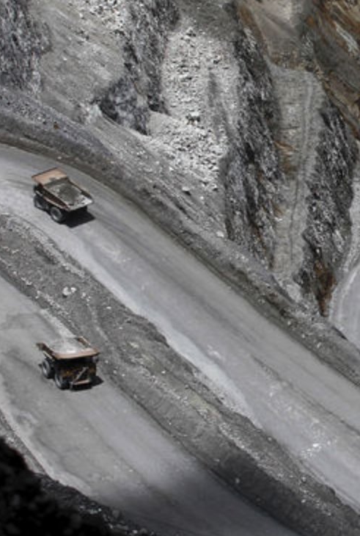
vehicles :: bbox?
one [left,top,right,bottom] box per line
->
[39,326,101,390]
[28,169,87,227]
